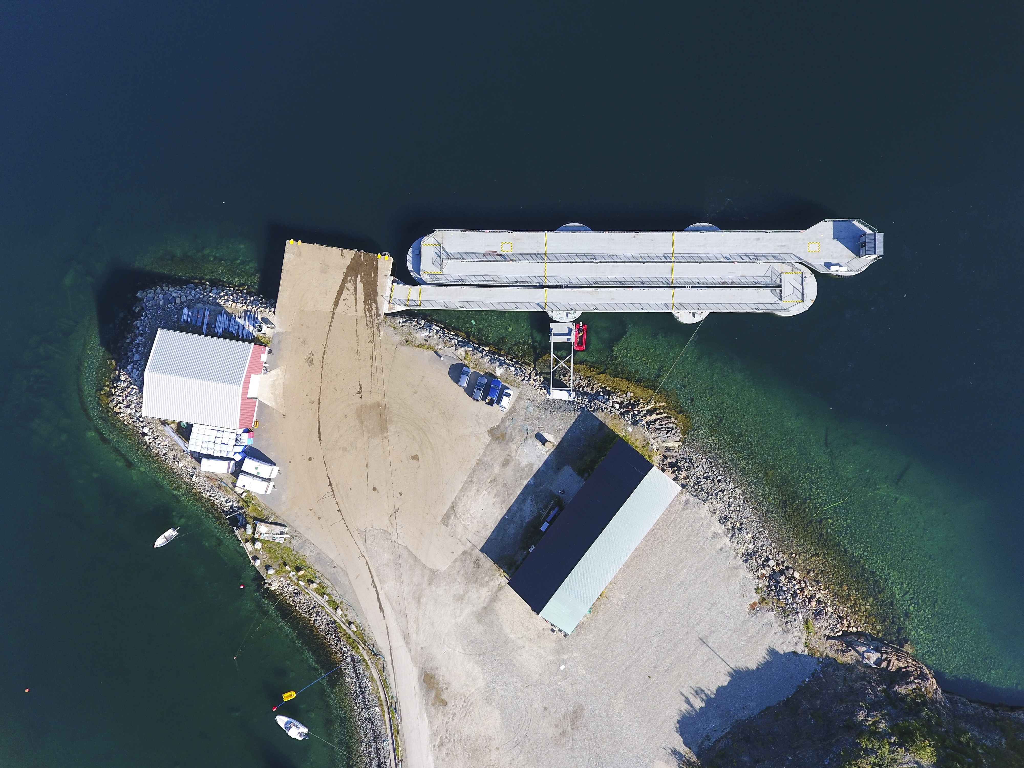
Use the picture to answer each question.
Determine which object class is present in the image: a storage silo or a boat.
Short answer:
boat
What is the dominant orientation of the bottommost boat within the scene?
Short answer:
at an angle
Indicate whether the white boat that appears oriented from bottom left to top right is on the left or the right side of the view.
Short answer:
left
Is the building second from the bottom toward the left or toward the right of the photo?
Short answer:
left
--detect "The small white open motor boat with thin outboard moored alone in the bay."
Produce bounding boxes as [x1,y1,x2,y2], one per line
[154,527,178,548]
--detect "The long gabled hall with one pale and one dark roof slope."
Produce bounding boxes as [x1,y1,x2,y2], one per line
[507,439,682,633]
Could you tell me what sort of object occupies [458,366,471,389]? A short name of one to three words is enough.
vehicle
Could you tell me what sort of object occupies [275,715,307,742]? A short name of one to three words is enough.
boat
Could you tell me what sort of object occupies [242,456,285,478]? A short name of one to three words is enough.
camper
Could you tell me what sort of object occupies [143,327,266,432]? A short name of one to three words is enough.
building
